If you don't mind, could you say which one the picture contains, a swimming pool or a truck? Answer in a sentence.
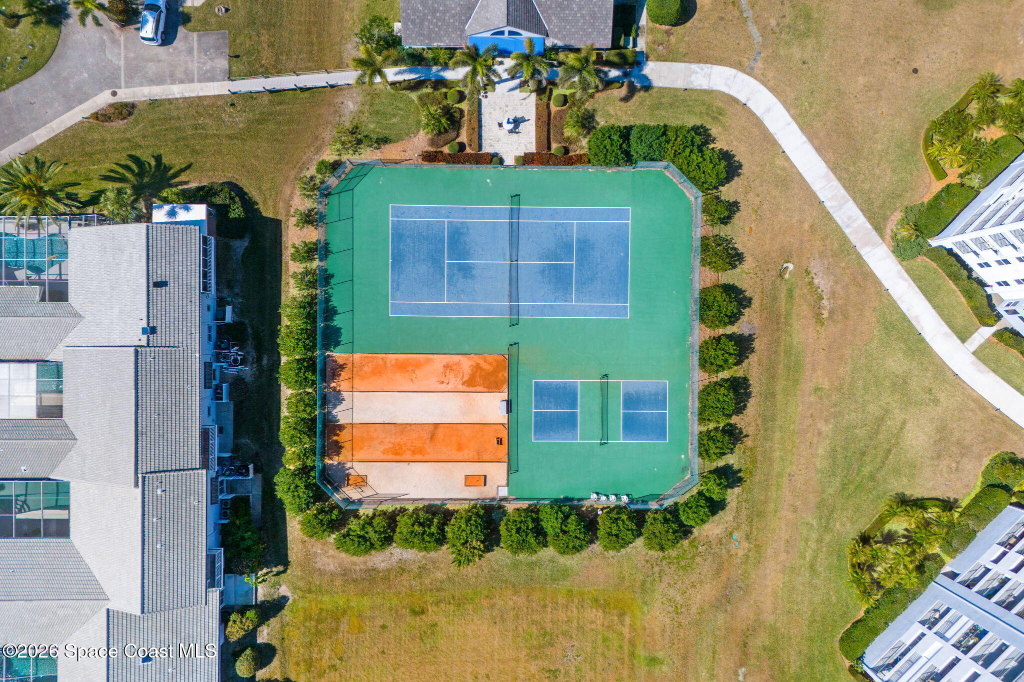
The one in the frame is a swimming pool.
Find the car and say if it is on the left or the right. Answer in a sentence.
The car sits on the left side.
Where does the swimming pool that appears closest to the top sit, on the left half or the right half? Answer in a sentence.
The swimming pool that appears closest to the top is on the left side of the image.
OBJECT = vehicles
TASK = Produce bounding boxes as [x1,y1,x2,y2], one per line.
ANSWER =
[140,0,168,45]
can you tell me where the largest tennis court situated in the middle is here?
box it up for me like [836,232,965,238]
[326,168,692,500]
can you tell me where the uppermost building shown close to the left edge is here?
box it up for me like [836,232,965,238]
[0,204,216,361]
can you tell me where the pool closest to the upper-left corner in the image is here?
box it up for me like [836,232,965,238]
[0,234,68,280]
